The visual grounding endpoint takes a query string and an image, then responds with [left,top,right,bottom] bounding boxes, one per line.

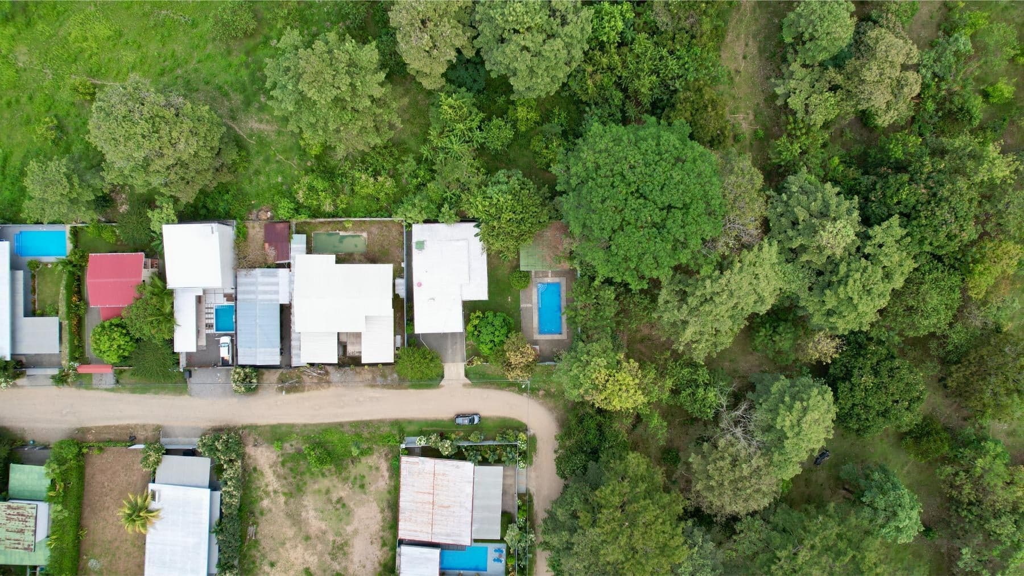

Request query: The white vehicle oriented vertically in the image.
[219,335,233,365]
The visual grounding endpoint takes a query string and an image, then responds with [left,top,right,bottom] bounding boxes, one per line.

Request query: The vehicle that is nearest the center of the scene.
[455,413,480,426]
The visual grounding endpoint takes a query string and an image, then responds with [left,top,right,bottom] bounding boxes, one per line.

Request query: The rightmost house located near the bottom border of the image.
[398,455,503,576]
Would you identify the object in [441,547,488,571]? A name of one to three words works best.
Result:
swimming pool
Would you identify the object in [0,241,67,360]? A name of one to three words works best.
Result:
house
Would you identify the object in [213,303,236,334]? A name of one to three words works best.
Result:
swimming pool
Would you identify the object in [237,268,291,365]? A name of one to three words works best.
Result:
house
